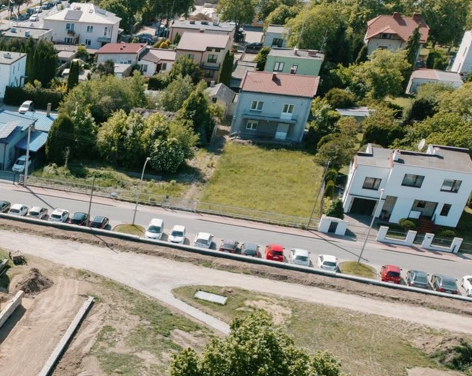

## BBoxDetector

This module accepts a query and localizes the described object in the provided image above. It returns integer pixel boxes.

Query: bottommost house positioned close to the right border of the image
[344,138,472,232]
